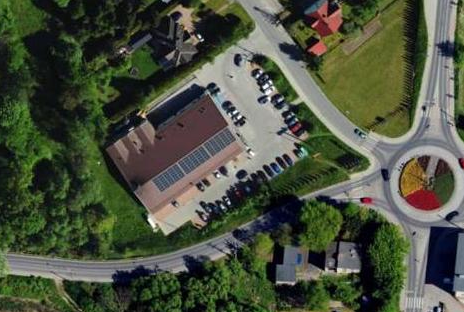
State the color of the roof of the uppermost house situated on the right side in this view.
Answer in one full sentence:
From above, the roof of the uppermost house situated on the right side looks red.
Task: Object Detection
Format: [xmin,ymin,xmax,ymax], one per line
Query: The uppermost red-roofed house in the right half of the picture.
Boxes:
[306,0,348,40]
